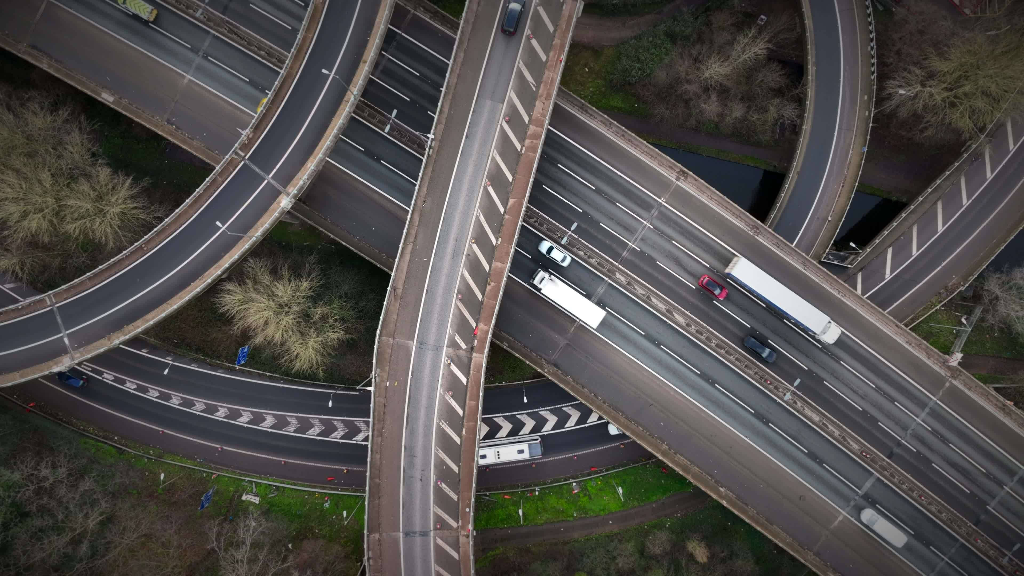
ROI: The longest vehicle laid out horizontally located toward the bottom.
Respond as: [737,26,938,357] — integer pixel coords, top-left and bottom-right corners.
[477,437,542,467]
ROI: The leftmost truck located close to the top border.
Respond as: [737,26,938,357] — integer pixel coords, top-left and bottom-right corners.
[106,0,158,24]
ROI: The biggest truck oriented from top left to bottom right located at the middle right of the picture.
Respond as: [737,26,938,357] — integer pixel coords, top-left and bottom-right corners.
[724,256,839,347]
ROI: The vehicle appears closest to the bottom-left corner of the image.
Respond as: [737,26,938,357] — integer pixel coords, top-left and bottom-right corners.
[56,369,87,389]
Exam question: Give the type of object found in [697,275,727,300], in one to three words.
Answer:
car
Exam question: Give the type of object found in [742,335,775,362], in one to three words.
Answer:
car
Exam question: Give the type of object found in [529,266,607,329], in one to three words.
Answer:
truck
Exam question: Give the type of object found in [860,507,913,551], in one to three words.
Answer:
van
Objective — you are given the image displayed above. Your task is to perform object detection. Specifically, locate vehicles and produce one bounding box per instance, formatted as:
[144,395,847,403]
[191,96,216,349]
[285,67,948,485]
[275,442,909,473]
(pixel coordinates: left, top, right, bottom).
[477,437,542,467]
[724,256,839,347]
[607,422,623,435]
[256,99,264,111]
[537,240,571,267]
[106,0,158,24]
[56,369,87,389]
[742,335,775,362]
[529,266,607,329]
[697,275,727,300]
[860,507,913,551]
